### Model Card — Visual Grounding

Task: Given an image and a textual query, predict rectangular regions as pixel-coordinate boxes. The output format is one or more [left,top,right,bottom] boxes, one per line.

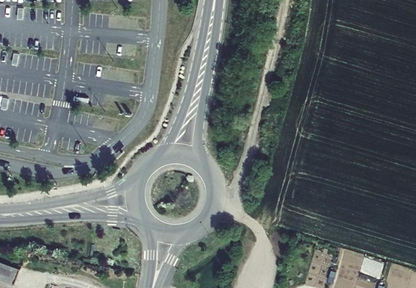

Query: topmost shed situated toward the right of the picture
[360,258,385,280]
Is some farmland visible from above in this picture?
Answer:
Yes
